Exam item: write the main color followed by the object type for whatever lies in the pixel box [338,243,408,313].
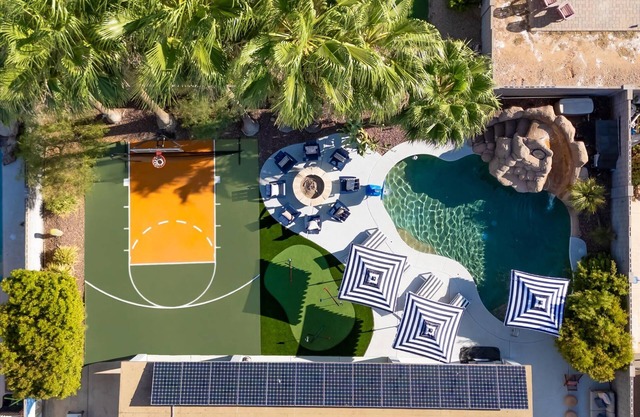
white umbrella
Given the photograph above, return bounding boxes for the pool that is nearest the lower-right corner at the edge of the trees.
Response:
[371,144,582,344]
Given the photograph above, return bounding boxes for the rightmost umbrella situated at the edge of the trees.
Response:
[504,270,570,336]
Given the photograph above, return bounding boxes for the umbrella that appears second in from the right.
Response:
[392,291,463,361]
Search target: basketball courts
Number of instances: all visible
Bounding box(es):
[83,138,261,366]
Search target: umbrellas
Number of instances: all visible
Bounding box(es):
[338,243,408,313]
[504,270,570,336]
[392,291,463,361]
